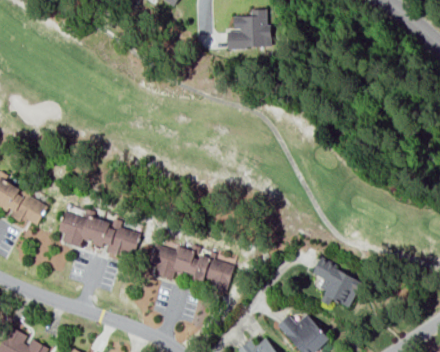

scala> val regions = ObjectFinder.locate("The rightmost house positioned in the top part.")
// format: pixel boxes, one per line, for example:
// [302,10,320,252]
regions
[228,8,268,49]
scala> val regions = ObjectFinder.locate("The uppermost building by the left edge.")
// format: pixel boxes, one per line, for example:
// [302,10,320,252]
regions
[0,180,48,226]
